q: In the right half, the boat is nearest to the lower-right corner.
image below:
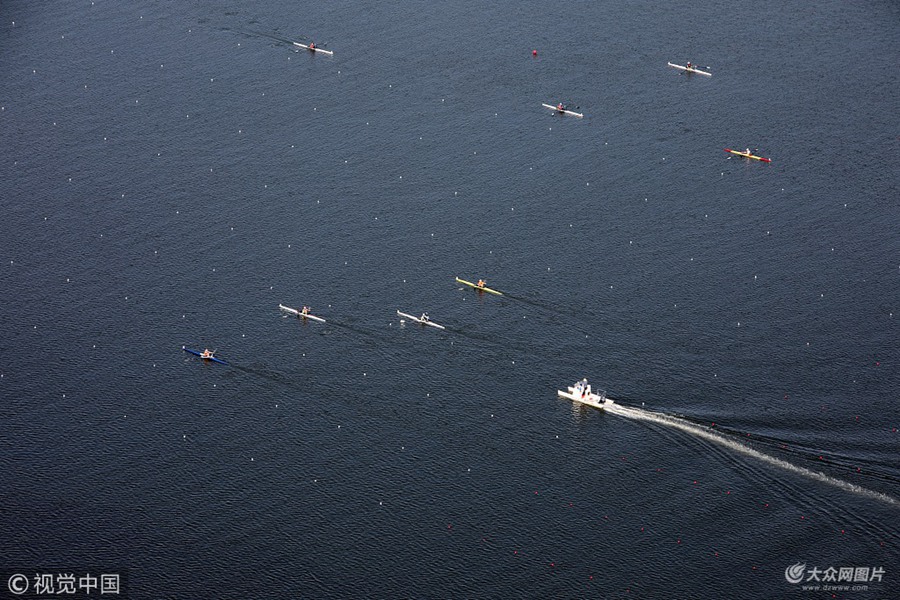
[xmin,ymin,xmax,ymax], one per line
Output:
[555,387,618,411]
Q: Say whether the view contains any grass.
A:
No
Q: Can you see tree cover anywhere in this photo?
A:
No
